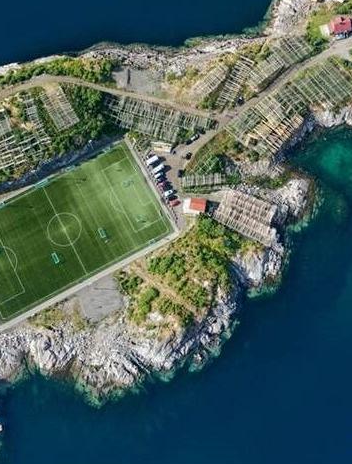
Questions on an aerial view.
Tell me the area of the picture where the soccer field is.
left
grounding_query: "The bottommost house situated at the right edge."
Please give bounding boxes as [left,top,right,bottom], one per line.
[321,17,352,37]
